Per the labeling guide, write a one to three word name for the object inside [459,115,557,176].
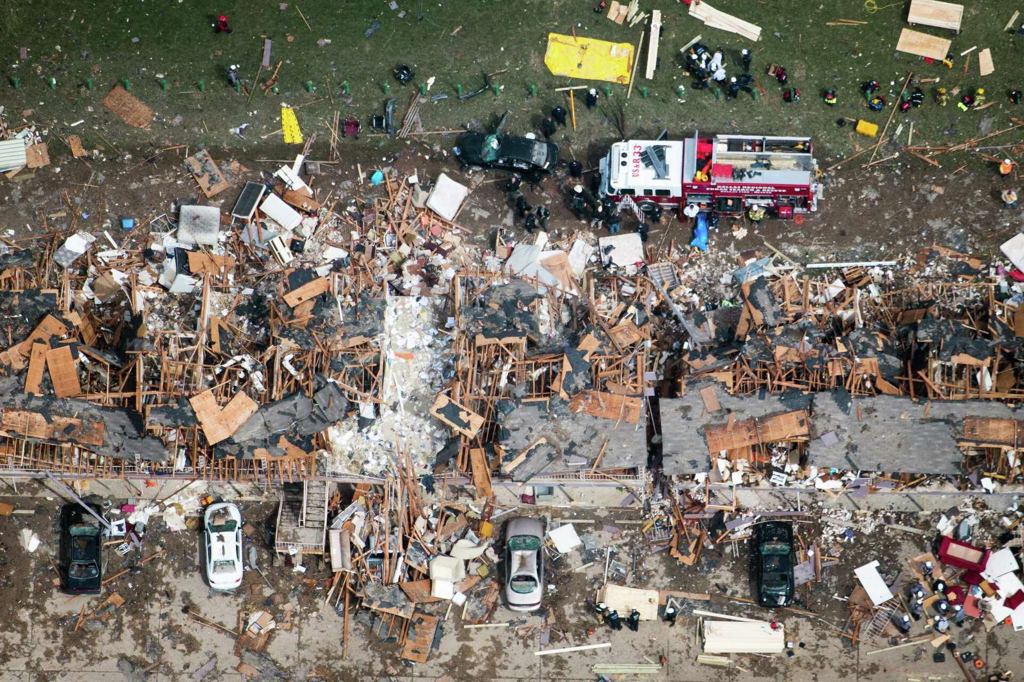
car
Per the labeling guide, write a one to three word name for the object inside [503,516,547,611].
car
